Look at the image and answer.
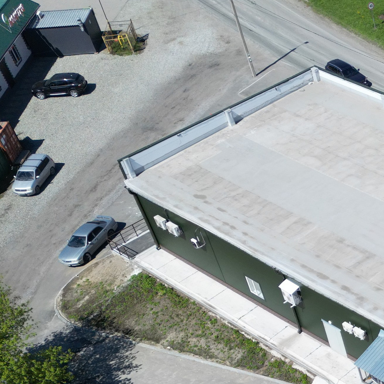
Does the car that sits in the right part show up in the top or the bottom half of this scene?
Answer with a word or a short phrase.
top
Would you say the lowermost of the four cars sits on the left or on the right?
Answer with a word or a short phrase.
left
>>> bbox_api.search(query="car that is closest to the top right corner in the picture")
[326,53,383,87]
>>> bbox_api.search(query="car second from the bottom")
[6,151,55,194]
